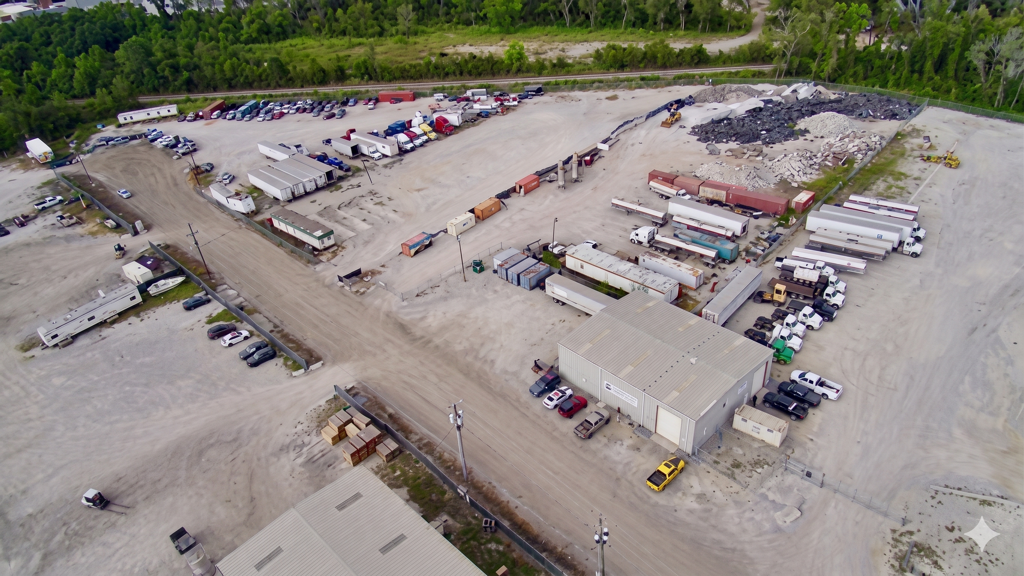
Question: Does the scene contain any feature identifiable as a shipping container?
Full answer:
Yes, the frame does contain a shipping container.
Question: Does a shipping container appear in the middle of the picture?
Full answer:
Yes, in the middle of the picture there is a shipping container.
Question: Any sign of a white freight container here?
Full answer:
Yes, a white freight container can be made out from above.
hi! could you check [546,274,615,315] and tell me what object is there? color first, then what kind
white trailer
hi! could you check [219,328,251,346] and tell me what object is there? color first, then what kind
white car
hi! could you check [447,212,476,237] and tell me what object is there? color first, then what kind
white shipping container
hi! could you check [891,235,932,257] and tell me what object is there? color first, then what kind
white truck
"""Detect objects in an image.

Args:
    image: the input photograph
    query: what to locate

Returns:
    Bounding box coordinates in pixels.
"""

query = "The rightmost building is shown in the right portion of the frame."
[555,290,776,455]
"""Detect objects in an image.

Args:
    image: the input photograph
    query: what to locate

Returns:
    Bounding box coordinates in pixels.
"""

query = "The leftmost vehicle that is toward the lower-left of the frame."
[76,483,123,514]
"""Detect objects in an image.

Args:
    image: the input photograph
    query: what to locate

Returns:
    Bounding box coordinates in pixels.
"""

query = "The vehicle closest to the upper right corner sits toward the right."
[926,152,966,168]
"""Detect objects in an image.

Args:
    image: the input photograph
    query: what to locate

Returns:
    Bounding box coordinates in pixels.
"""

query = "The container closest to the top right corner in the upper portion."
[788,190,815,215]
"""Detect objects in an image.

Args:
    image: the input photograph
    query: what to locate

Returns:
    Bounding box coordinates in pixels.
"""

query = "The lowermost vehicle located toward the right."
[644,453,687,490]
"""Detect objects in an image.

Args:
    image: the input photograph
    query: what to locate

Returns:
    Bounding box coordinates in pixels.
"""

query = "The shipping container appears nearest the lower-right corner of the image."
[731,402,788,447]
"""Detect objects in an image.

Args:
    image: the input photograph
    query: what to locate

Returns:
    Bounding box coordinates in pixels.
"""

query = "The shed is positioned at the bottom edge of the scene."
[215,465,492,576]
